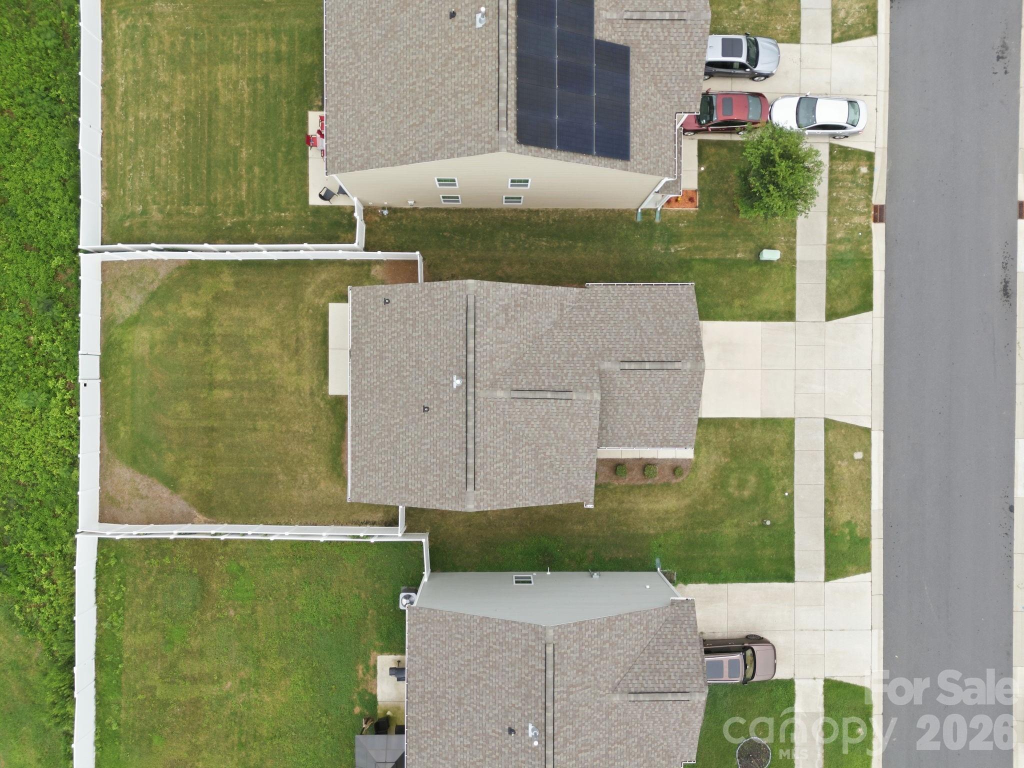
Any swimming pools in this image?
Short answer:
No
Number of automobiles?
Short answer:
4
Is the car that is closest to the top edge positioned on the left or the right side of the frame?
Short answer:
right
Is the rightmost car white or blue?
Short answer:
white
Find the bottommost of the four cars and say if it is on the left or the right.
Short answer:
right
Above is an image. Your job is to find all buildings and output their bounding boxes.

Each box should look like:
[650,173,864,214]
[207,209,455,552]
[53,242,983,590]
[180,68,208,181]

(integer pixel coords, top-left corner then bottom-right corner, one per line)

[346,279,704,511]
[322,0,710,213]
[405,564,708,768]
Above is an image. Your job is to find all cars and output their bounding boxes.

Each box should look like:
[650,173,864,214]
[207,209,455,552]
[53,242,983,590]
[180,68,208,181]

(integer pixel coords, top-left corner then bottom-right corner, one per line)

[768,91,869,139]
[679,87,771,135]
[704,29,782,81]
[700,634,778,686]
